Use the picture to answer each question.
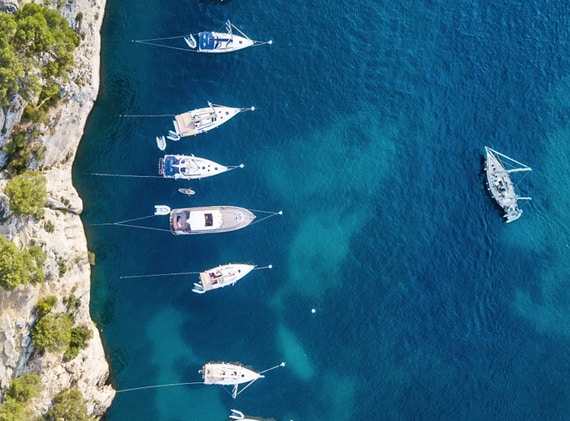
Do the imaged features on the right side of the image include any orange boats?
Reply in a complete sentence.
No, I can find no orange boat on the right side of the image.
